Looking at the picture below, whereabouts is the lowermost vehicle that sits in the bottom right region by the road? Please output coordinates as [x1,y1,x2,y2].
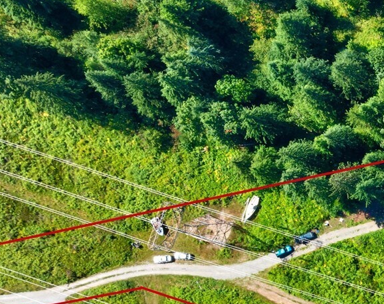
[274,244,294,259]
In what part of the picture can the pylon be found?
bottom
